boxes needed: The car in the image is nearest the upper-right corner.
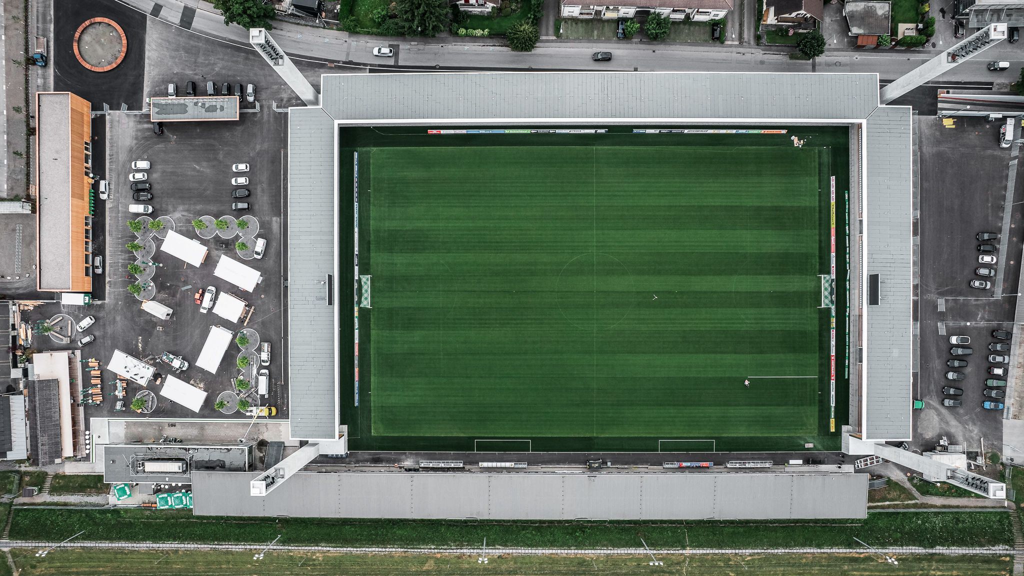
[1007,27,1020,45]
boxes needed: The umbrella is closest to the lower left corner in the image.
[114,483,132,501]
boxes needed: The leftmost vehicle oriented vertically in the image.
[33,35,48,67]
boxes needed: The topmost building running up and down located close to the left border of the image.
[35,92,92,292]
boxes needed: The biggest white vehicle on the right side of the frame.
[1000,118,1017,148]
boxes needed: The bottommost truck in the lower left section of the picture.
[238,402,276,443]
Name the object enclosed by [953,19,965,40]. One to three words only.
vehicle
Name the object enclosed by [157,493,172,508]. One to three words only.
umbrella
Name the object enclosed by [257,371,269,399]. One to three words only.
vehicle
